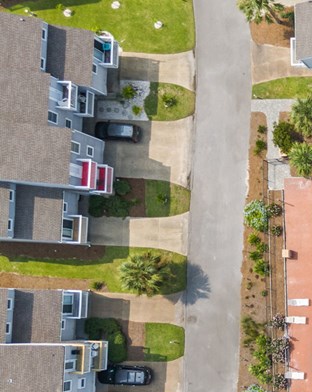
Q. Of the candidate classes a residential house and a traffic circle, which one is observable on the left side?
residential house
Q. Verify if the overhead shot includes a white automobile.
No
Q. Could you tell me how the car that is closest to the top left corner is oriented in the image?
horizontally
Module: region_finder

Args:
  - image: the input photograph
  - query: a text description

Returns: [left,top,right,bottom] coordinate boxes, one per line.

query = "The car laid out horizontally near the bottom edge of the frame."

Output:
[98,364,151,388]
